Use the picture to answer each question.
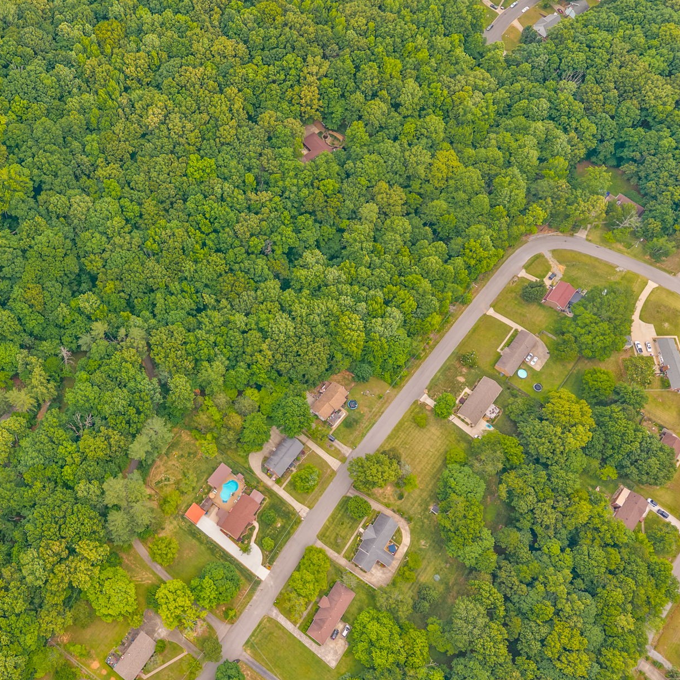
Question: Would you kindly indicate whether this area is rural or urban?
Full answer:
It looks rural.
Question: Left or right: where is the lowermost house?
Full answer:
You can find the lowermost house on the left side of the picture.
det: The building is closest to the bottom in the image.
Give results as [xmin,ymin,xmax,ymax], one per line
[113,630,156,680]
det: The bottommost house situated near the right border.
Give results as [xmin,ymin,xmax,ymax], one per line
[612,487,649,527]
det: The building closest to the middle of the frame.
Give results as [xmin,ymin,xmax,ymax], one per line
[310,383,349,420]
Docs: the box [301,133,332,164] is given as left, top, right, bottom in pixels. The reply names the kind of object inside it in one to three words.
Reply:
house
